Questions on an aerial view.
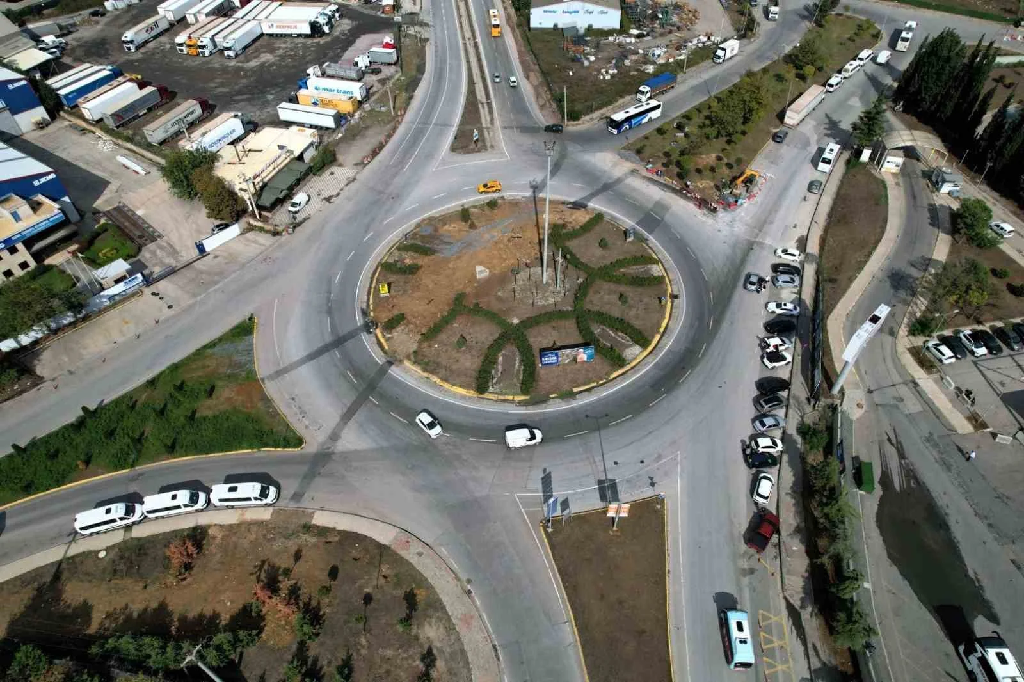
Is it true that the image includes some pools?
No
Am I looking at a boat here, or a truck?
truck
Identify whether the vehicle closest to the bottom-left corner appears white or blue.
white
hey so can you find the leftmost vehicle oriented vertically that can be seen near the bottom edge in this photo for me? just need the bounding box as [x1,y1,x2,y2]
[723,602,753,674]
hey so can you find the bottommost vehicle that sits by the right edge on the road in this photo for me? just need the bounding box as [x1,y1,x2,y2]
[963,639,1022,682]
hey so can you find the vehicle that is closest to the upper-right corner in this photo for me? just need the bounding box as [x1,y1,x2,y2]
[897,23,916,46]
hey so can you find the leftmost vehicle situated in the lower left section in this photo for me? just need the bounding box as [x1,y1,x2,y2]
[73,506,144,539]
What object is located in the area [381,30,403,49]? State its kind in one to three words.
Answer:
vehicle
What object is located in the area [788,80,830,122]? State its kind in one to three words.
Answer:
trailer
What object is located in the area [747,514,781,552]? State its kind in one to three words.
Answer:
truck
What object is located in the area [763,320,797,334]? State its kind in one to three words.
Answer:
car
